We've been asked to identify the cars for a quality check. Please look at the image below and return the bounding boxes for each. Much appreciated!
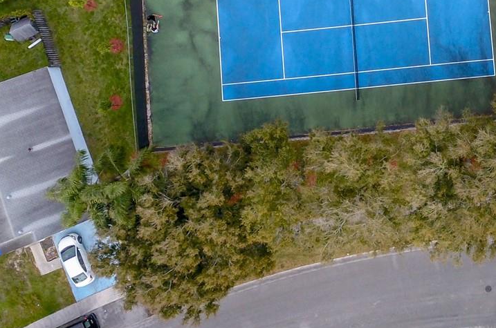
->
[55,233,93,292]
[50,311,98,328]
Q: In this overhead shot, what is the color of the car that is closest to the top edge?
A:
white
